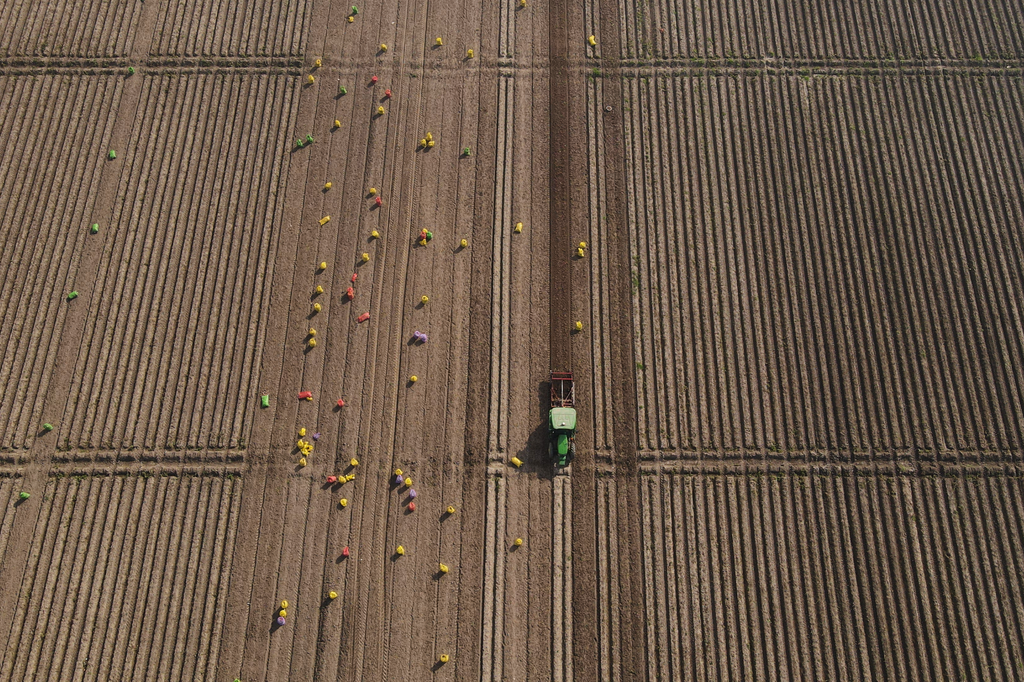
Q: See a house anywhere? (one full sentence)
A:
No, there is no house in the image.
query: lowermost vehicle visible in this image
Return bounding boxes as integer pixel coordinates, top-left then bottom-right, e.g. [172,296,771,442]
[549,407,580,466]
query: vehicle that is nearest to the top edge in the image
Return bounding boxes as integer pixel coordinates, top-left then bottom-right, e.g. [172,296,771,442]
[551,369,575,408]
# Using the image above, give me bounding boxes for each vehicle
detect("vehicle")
[549,407,580,466]
[551,369,575,408]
